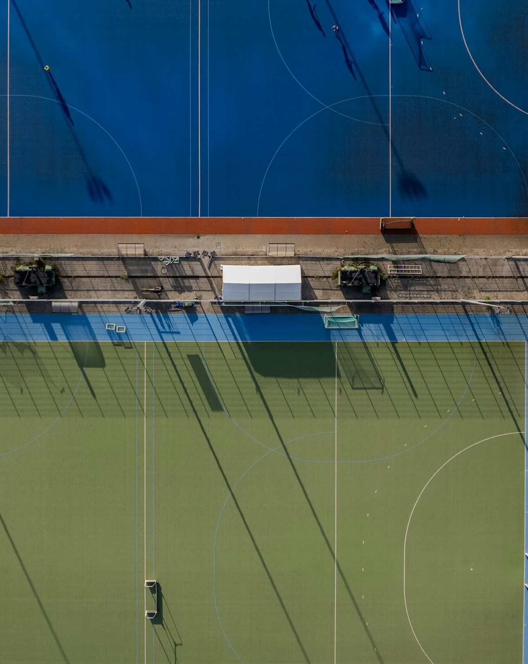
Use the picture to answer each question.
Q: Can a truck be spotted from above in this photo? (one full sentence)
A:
No, there appears to be no truck in this shot.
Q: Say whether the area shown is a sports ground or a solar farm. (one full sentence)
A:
The area seen from above is a sports ground.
